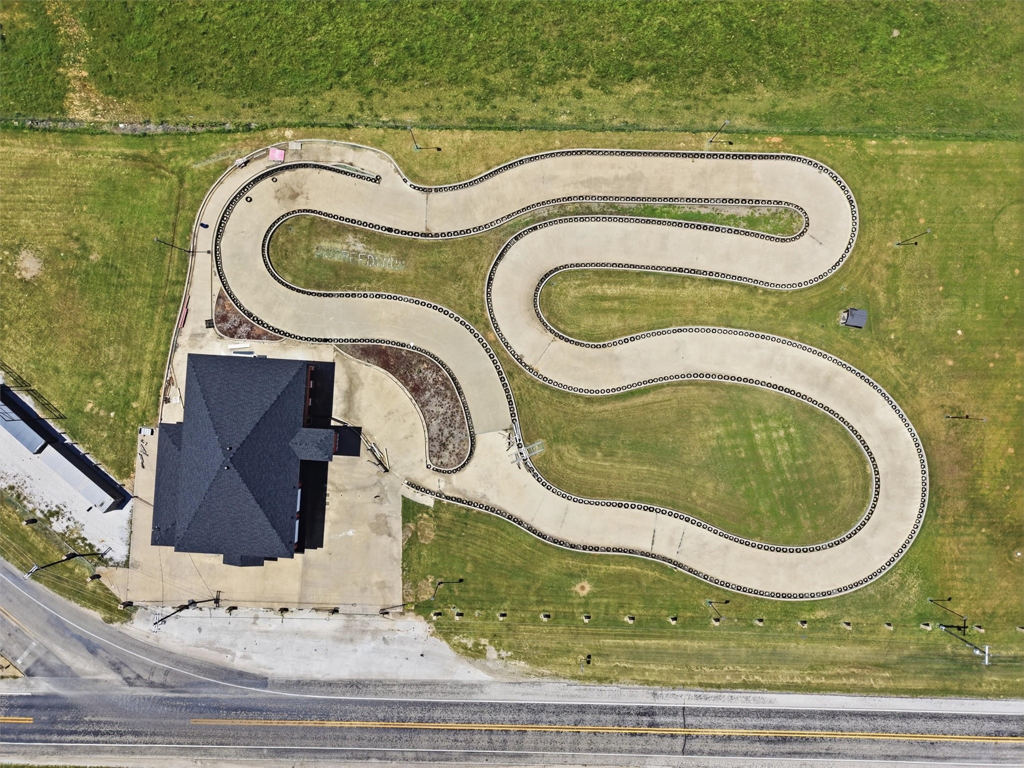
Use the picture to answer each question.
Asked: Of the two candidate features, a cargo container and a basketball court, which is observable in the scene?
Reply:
cargo container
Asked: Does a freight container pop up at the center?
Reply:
No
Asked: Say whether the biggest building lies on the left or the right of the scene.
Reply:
left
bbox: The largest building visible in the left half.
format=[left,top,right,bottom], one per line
[149,353,339,567]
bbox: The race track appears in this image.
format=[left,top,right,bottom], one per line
[221,156,920,592]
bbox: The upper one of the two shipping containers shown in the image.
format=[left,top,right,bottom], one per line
[0,390,58,454]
